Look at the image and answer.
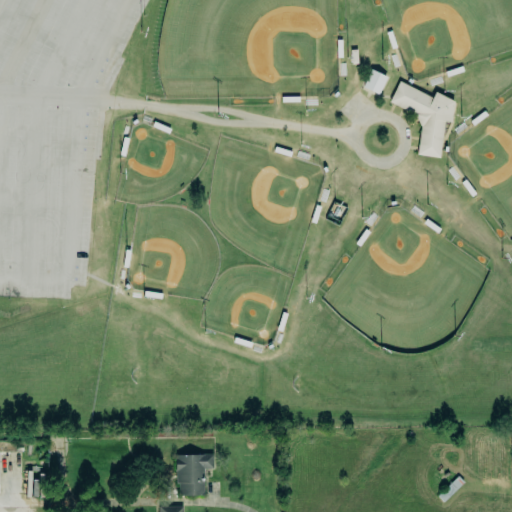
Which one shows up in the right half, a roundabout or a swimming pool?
roundabout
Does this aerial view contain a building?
Yes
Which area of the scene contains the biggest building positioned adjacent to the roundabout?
top right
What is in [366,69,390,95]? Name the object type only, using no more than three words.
building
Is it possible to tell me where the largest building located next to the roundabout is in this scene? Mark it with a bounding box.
[392,80,457,158]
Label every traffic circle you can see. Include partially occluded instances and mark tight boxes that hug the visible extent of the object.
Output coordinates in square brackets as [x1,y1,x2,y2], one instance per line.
[340,92,412,170]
